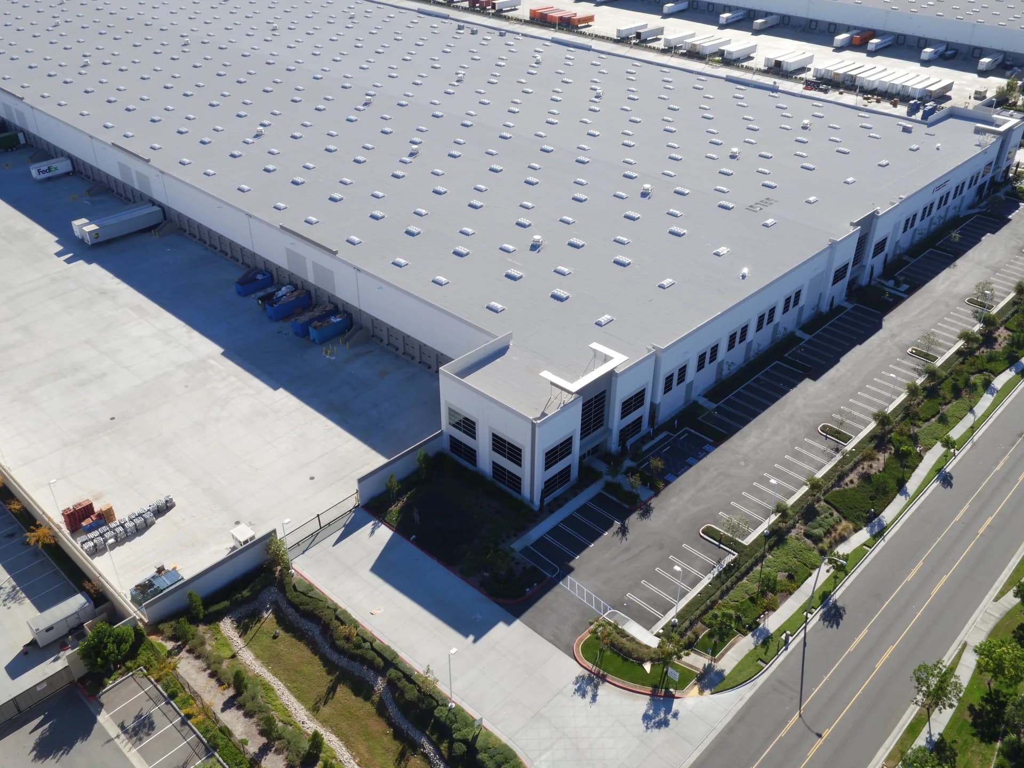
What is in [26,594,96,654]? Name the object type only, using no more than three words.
trailer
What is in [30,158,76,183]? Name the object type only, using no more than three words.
trailer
